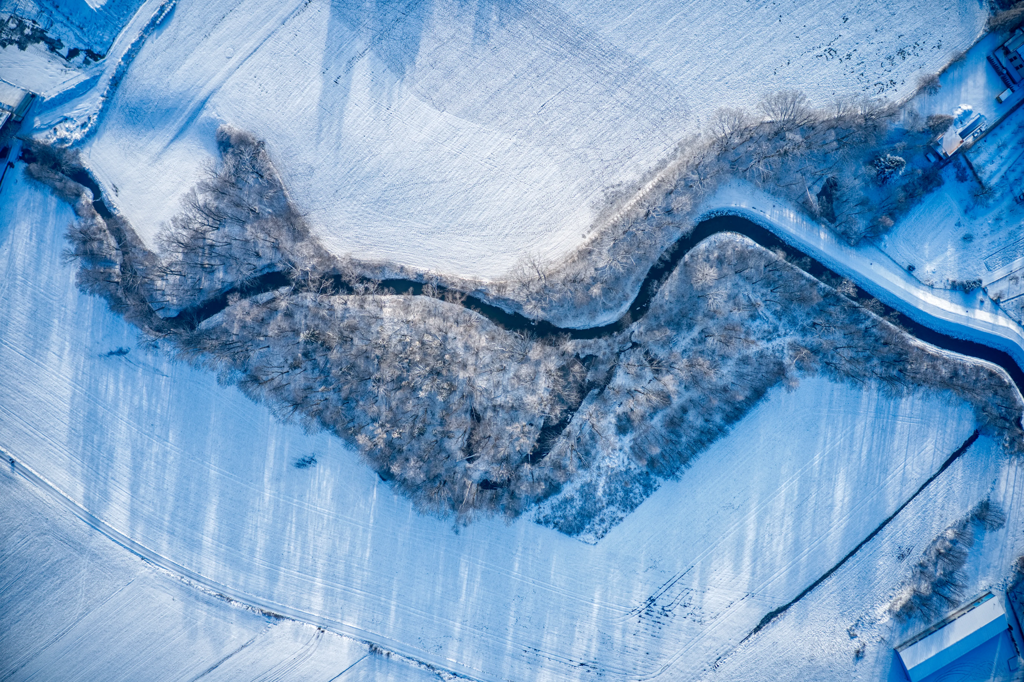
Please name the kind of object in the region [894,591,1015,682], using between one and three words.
barn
